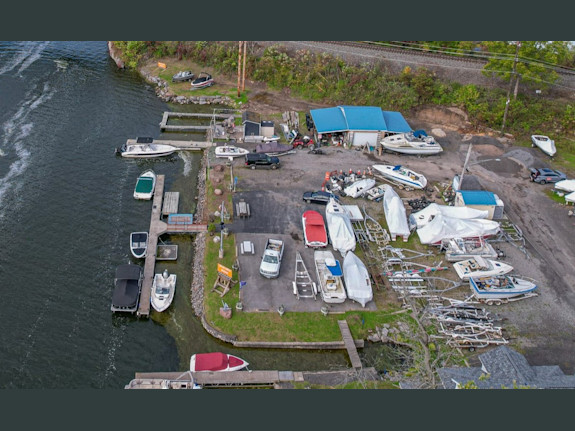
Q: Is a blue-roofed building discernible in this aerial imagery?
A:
Yes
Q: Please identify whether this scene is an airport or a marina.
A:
marina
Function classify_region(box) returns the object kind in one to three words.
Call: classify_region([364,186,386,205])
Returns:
boat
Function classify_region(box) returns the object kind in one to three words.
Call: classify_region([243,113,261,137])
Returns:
shed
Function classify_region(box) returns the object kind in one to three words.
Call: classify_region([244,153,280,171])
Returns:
car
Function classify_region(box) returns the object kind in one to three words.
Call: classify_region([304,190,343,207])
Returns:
car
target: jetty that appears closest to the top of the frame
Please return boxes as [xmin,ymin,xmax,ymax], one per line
[160,112,230,133]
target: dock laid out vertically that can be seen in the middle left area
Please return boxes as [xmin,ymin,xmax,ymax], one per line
[138,174,164,319]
